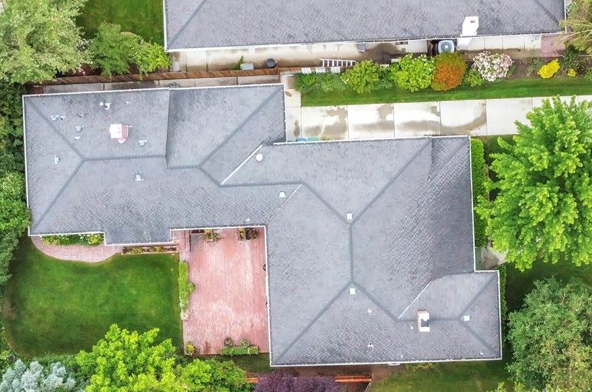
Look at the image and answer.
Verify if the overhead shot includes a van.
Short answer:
No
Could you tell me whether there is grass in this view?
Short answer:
Yes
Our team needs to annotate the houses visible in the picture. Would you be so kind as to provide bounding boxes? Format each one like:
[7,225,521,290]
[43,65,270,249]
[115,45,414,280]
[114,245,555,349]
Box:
[162,0,567,54]
[21,81,504,367]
